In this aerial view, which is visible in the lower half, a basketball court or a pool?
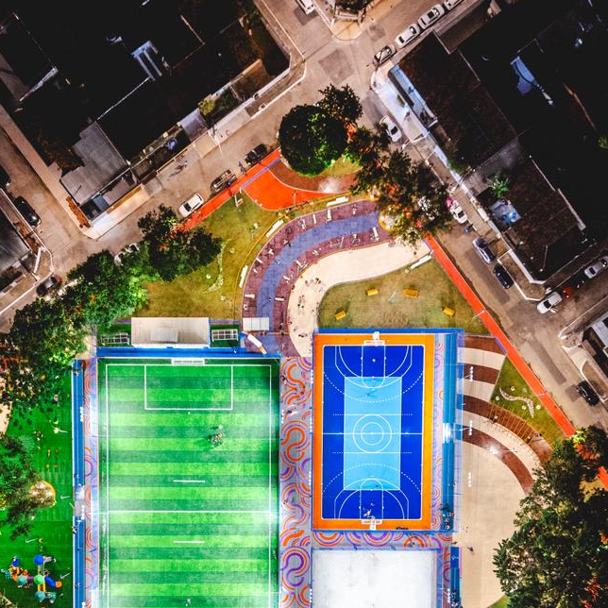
basketball court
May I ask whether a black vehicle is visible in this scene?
Yes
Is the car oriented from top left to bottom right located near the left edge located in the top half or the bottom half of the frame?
top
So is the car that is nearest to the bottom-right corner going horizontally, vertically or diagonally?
diagonally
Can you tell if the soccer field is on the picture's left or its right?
left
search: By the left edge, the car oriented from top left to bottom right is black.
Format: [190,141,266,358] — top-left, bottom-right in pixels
[13,195,38,223]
